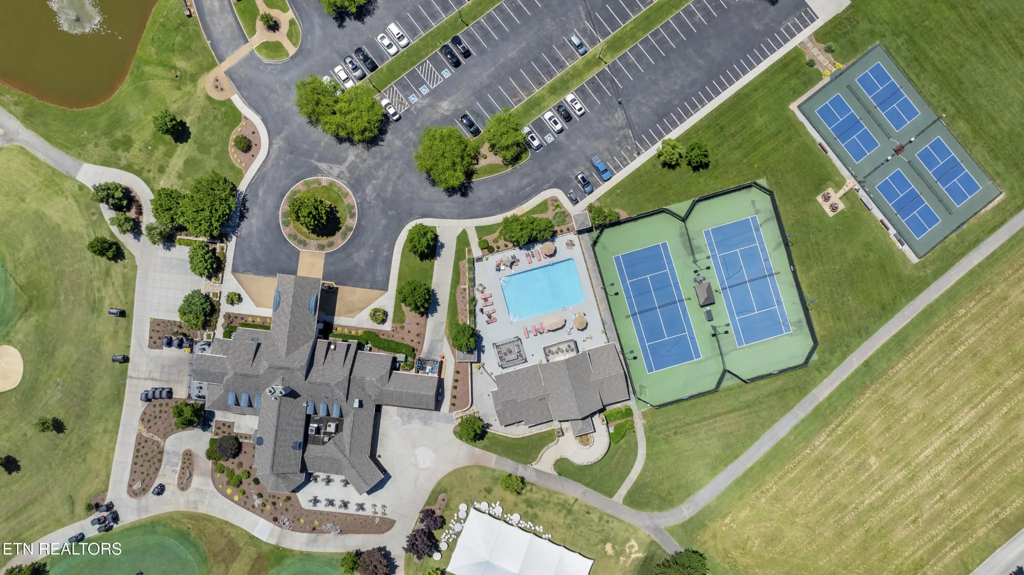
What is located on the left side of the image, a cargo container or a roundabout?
roundabout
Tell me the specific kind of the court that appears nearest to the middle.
tennis court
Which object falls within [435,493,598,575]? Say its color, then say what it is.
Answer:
white tent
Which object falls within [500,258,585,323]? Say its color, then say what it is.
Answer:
blue swimming pool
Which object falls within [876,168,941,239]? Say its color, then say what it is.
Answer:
blue sports court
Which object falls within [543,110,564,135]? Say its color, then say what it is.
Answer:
white car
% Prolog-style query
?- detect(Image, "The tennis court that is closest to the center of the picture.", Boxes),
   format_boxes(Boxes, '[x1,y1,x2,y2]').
[613,242,702,374]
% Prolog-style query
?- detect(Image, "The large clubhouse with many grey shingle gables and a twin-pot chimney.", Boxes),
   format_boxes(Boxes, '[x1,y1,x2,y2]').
[191,274,440,495]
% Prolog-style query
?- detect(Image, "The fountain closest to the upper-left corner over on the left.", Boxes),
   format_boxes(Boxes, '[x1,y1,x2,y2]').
[47,0,124,52]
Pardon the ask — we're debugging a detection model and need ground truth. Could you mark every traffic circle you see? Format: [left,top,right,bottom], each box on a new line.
[279,176,357,253]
